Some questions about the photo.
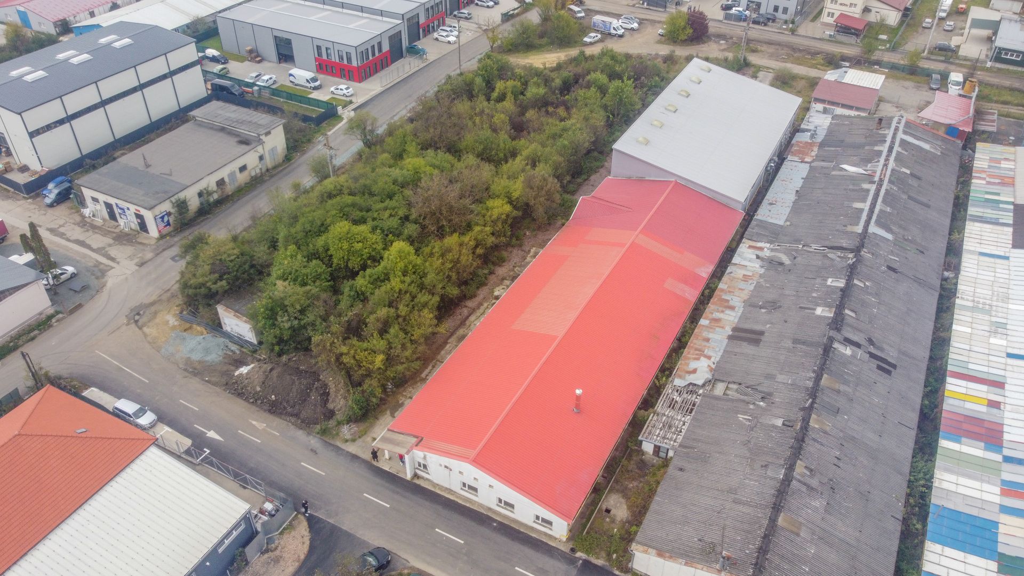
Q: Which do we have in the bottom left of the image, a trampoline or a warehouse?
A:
warehouse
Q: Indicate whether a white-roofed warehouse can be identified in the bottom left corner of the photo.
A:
Yes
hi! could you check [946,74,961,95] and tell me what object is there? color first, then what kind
white vehicle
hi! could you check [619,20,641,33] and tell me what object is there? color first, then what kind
white vehicle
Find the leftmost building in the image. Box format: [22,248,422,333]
[0,252,54,338]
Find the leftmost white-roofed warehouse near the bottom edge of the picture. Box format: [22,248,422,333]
[0,447,255,576]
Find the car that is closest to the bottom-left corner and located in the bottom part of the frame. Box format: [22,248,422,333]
[107,398,154,430]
